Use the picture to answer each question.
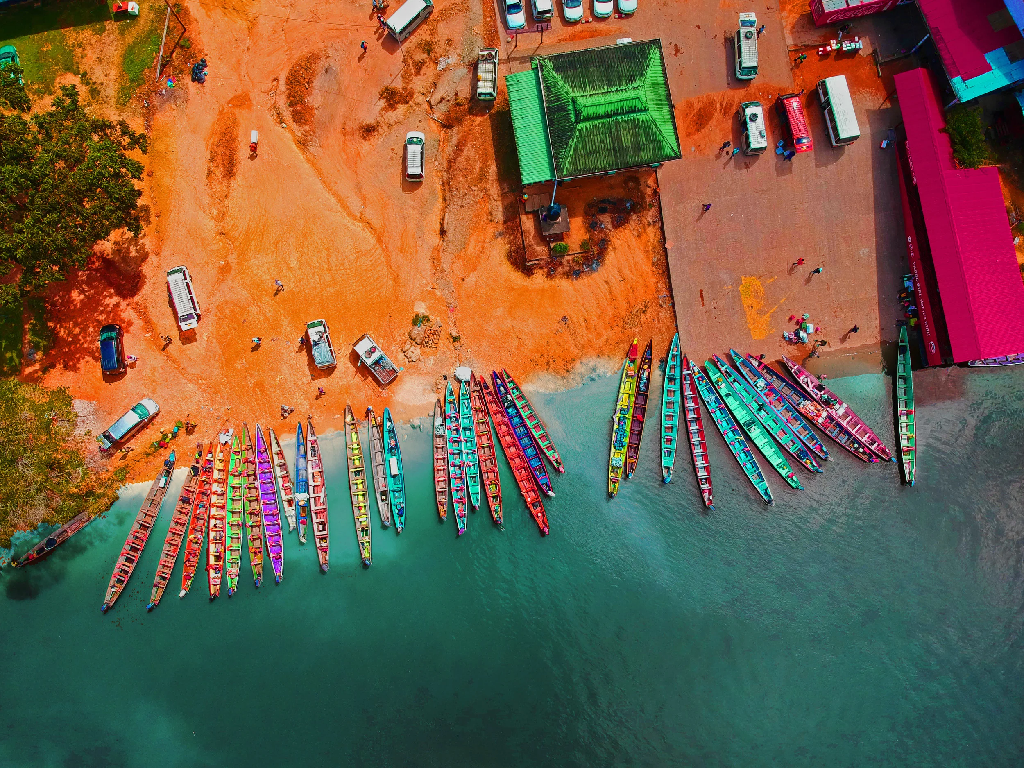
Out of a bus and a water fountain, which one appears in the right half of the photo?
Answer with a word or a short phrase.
bus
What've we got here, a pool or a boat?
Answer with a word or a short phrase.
boat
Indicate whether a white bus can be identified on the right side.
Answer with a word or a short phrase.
Yes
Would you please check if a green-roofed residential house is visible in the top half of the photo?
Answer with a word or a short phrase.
Yes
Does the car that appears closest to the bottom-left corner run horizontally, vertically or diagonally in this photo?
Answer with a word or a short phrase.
diagonally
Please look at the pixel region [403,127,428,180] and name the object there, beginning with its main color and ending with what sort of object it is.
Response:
white car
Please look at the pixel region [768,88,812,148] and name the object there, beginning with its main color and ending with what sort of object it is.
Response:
red van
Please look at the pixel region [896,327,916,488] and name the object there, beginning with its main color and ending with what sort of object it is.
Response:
green boat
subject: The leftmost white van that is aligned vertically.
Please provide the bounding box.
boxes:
[167,261,204,327]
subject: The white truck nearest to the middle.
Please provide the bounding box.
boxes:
[352,335,402,388]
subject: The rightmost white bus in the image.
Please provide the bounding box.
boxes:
[813,76,860,152]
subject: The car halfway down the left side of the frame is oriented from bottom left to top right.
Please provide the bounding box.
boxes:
[101,385,172,438]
